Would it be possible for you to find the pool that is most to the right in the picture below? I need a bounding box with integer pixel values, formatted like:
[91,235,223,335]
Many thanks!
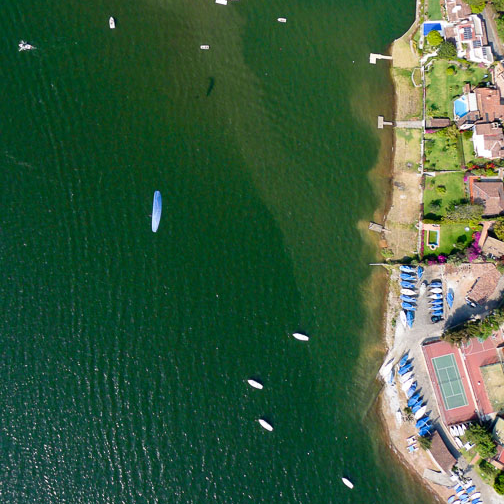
[453,94,470,120]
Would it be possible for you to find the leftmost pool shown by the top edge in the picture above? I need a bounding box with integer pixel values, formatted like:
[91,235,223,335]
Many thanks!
[420,21,445,41]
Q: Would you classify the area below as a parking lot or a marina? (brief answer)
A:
marina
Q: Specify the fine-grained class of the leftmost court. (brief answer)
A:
tennis court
